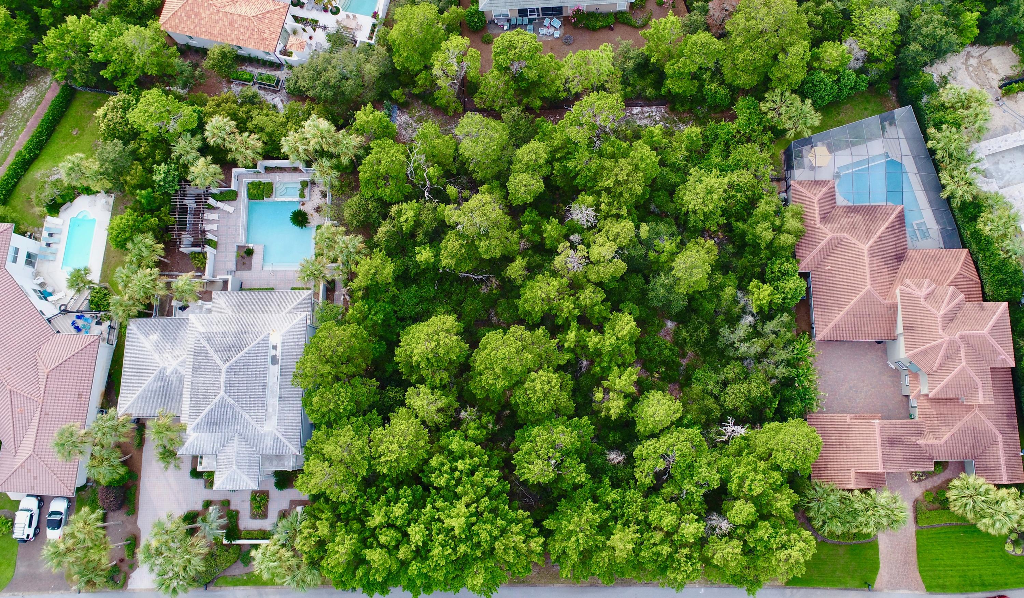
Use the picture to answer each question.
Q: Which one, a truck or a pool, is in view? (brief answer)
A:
pool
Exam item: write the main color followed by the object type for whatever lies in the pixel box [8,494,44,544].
white car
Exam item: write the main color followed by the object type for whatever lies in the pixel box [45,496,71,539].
white car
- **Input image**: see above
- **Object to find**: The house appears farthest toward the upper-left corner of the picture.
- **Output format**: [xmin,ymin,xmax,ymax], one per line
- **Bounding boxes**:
[159,0,296,59]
